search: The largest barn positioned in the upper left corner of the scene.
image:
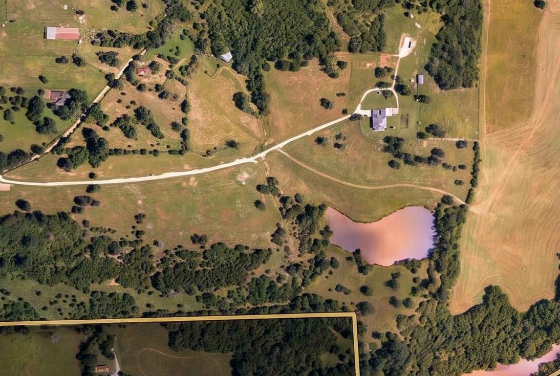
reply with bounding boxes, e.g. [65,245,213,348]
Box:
[45,27,78,39]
